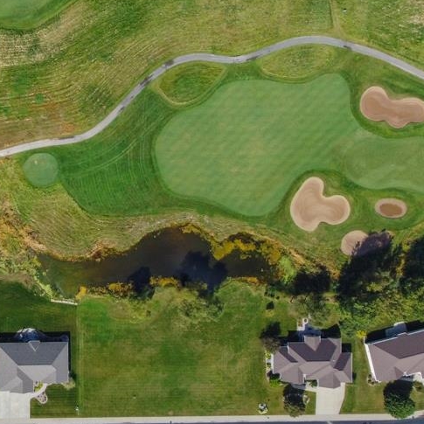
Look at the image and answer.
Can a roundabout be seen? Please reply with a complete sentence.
No, I can see no roundabout in this picture.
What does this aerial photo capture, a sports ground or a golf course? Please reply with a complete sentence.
The area seen from above is a golf course.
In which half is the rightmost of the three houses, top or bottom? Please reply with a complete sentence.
You can find the rightmost of the three houses in the bottom half.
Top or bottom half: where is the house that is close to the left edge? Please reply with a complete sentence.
You can find the house that is close to the left edge in the bottom half.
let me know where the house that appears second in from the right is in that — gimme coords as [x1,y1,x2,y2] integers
[270,335,353,388]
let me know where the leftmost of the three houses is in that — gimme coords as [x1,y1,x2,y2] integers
[0,340,69,393]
